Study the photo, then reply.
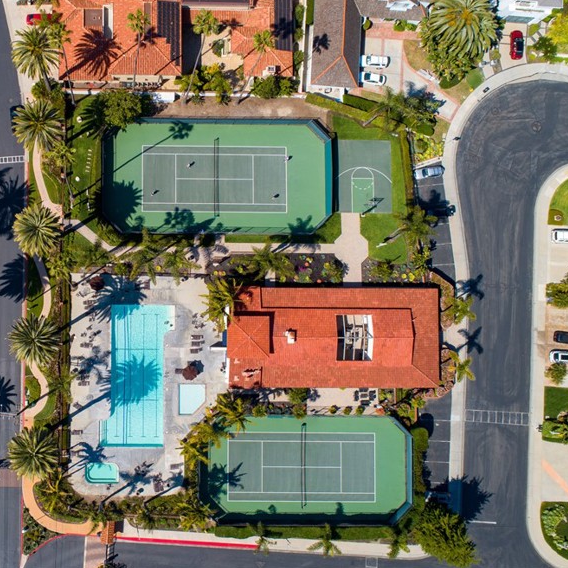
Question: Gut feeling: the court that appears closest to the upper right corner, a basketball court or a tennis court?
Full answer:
It turns out the court that appears closest to the upper right corner is a basketball court.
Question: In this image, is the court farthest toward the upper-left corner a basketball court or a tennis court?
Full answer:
Specifically, the court farthest toward the upper-left corner is a tennis court.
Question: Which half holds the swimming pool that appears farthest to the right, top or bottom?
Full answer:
The swimming pool that appears farthest to the right is in the bottom half of the image.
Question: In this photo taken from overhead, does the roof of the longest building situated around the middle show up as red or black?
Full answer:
In this view, the roof of the longest building situated around the middle is red.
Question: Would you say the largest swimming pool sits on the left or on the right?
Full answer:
It is on the left.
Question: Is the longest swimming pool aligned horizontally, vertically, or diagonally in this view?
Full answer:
The longest swimming pool is laid out vertically.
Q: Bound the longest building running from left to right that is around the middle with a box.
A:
[208,287,449,388]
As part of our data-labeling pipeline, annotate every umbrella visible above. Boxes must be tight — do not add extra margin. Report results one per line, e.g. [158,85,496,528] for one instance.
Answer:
[91,278,104,291]
[182,365,197,380]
